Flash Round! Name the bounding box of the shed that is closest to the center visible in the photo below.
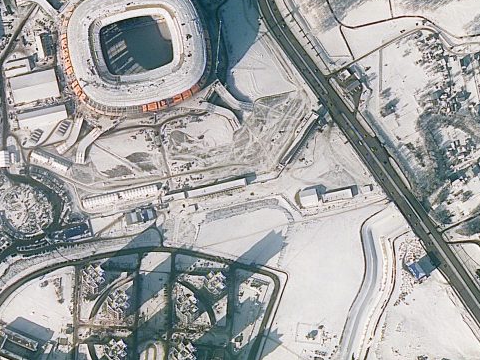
[188,178,246,198]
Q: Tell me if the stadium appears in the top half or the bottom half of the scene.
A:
top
